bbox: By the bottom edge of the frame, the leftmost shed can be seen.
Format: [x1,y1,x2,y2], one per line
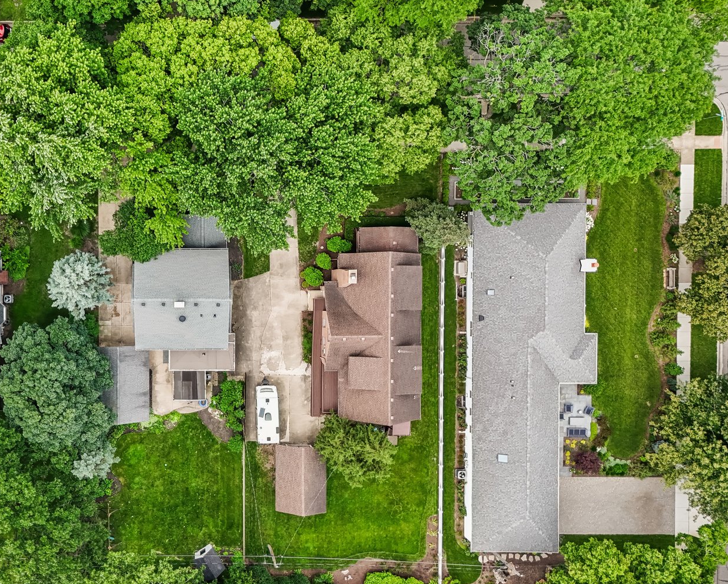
[196,544,225,582]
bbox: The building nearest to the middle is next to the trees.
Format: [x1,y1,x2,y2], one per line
[307,224,429,435]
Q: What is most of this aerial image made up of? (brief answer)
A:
trees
